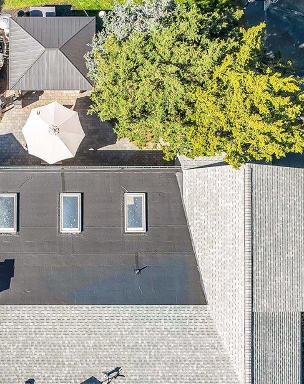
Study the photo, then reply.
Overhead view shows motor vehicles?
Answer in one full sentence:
No, this view has no motor vehicle in it.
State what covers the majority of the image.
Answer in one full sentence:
The scene is dominated by buildings.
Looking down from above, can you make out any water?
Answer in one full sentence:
No, no water is visible.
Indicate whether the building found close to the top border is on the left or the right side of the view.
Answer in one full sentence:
You can find the building found close to the top border on the left side of the picture.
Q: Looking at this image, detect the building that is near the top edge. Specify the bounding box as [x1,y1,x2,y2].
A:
[9,15,95,102]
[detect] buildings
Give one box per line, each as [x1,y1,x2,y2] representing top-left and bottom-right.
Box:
[9,15,95,102]
[0,154,304,384]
